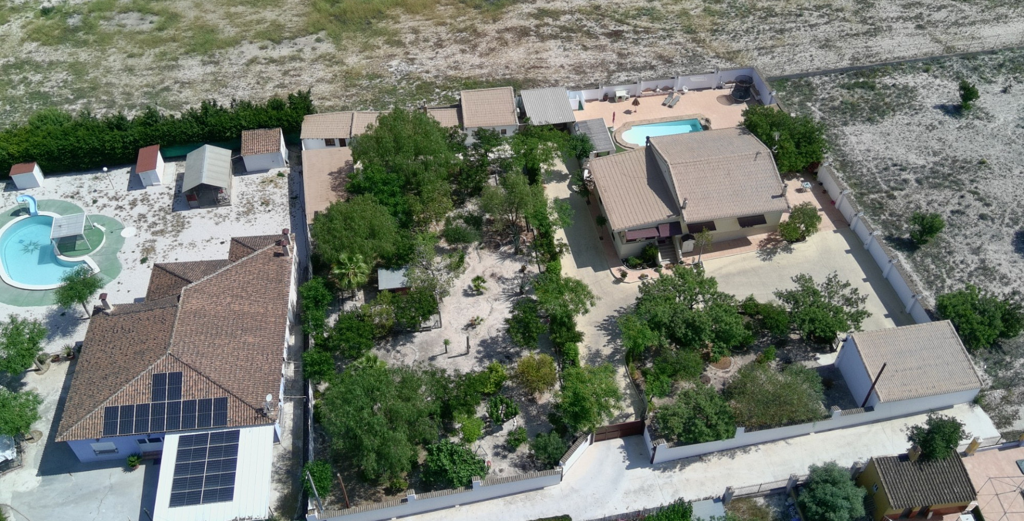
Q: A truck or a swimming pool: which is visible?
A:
swimming pool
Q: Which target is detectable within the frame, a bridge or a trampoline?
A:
trampoline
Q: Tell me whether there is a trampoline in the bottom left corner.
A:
No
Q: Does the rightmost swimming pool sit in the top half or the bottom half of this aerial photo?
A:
top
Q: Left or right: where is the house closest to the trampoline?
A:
right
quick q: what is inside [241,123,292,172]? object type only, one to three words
shed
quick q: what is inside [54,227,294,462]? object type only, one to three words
house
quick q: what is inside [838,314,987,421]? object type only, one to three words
building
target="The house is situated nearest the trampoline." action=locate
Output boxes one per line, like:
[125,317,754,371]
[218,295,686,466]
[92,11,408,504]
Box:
[587,126,793,263]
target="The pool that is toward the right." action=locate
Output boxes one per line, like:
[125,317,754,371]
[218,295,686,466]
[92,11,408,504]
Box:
[613,111,714,149]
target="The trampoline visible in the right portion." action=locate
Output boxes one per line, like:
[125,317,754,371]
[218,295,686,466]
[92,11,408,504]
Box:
[730,75,756,105]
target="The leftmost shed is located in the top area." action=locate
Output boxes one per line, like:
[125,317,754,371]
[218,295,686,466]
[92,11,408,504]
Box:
[9,161,44,189]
